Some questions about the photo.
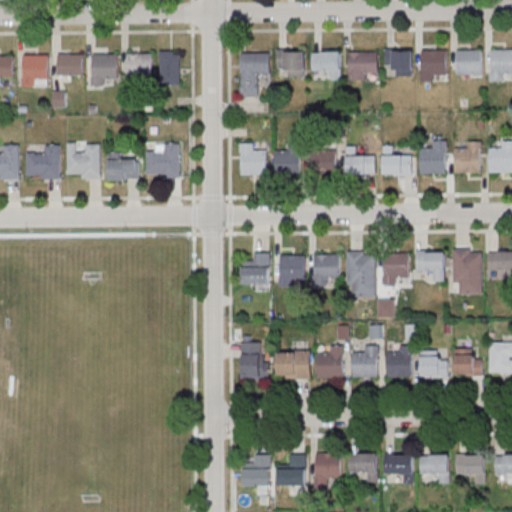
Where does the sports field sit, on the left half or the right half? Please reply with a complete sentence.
The sports field appears in the left half of the scene.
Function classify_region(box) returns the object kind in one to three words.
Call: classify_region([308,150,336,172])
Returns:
house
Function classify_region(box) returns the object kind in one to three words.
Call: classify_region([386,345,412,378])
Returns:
house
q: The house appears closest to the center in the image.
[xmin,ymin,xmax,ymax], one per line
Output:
[240,252,271,292]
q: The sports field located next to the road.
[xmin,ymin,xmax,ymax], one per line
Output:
[0,226,204,512]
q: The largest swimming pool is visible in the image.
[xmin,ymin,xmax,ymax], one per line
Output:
[238,493,252,508]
